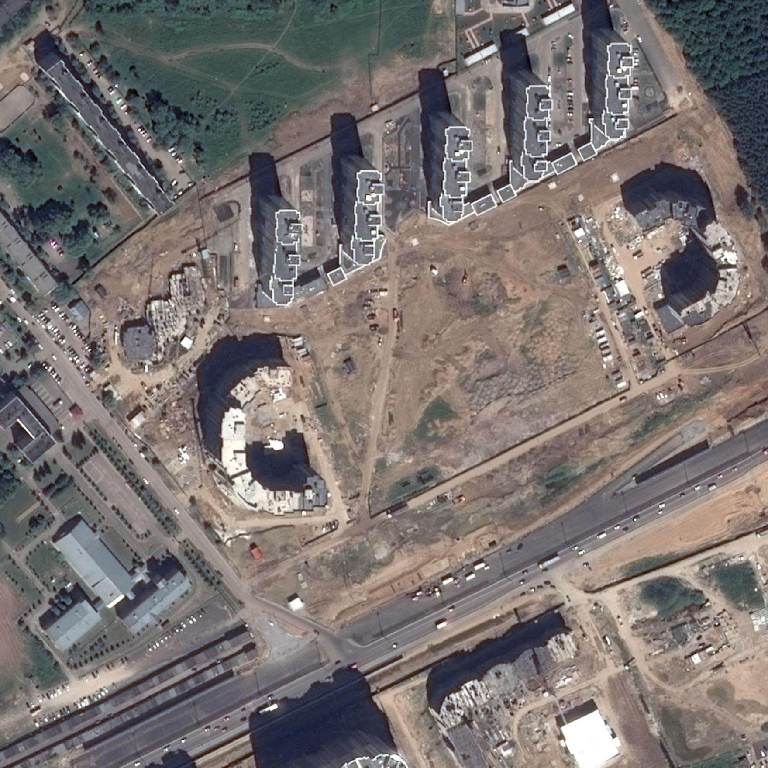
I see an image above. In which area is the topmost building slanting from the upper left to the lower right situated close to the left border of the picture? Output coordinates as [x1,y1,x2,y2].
[37,52,174,216]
